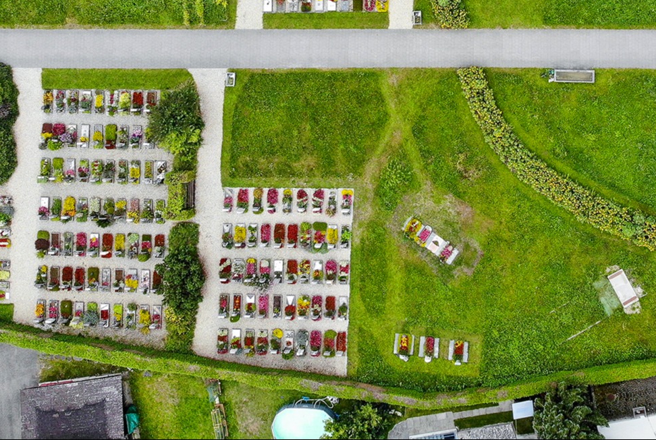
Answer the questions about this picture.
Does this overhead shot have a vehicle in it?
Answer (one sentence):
No, the frame has no vehicle in it.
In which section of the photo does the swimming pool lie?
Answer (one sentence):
You can find the swimming pool in the bottom area of the picture.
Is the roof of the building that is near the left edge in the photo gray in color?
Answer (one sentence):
Yes, the roof of the building that is near the left edge is gray.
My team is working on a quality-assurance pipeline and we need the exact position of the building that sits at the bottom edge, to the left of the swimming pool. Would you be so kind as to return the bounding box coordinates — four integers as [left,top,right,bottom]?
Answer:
[20,371,124,440]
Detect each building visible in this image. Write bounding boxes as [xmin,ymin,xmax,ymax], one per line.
[20,371,124,440]
[409,421,517,440]
[596,403,656,440]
